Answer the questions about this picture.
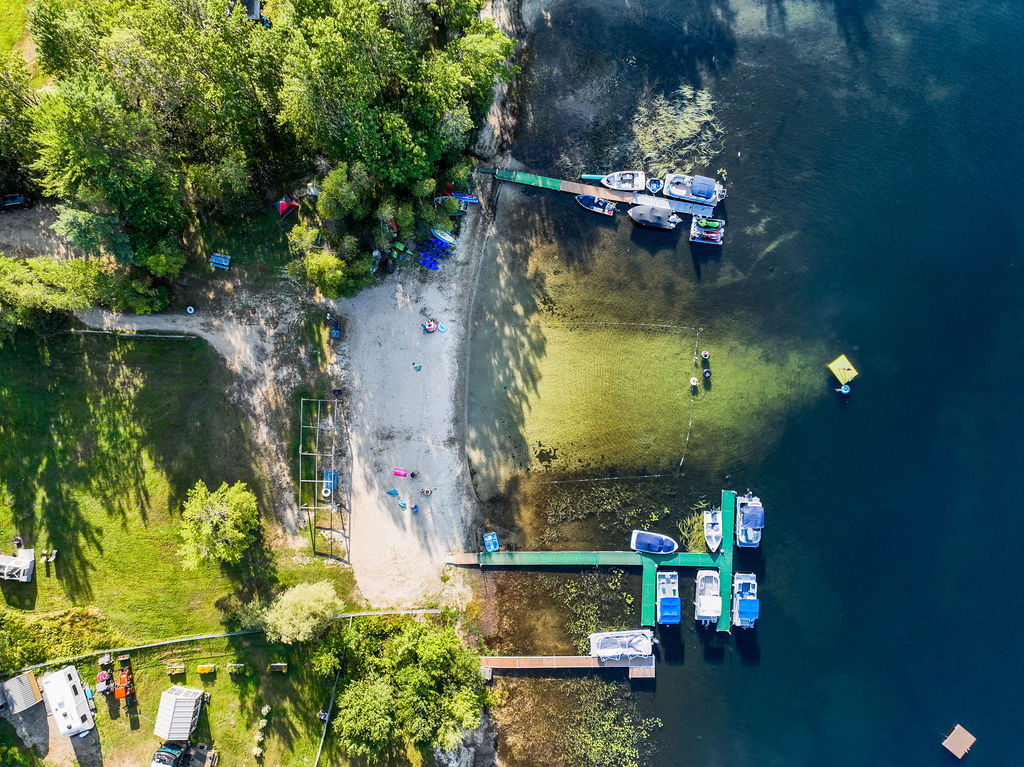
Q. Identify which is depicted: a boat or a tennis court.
boat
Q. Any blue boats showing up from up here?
Yes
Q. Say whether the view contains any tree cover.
Yes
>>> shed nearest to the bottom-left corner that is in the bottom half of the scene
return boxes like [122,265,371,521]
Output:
[0,669,45,717]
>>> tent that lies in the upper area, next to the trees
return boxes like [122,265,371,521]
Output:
[270,190,299,222]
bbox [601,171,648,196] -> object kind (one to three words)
boat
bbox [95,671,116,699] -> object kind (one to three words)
work vehicle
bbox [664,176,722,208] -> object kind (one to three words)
boat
